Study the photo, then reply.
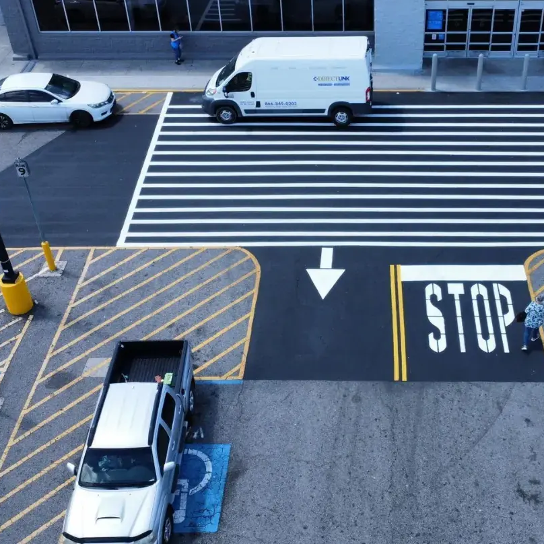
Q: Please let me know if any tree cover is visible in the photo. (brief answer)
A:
No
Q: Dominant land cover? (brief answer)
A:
paved ground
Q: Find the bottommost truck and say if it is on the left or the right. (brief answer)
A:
left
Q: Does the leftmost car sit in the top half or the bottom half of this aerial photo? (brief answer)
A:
top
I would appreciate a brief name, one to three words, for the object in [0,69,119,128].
car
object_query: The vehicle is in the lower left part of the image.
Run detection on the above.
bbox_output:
[56,338,203,544]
